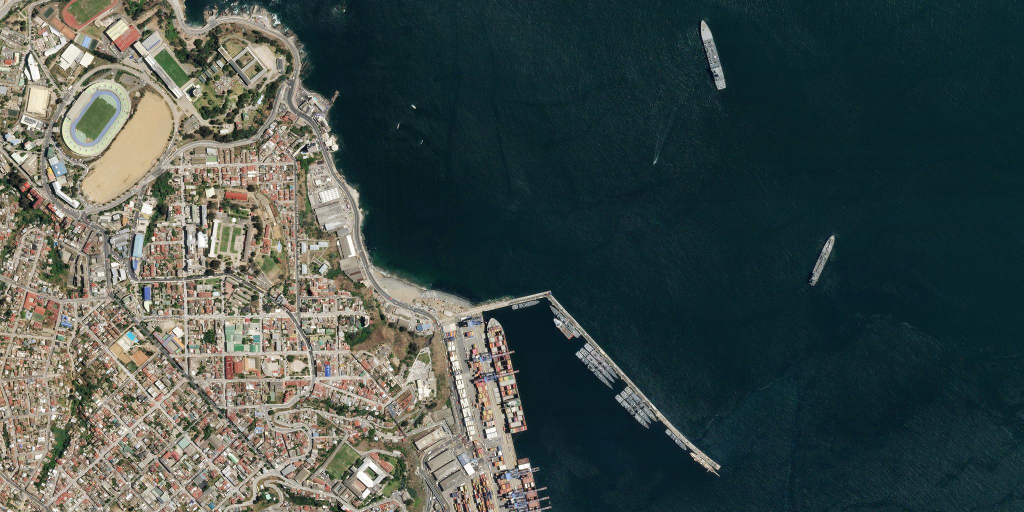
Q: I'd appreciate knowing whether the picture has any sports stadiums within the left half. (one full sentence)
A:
Yes, you'll find a sports stadium within the left half.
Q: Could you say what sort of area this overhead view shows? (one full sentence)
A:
This looks like a port.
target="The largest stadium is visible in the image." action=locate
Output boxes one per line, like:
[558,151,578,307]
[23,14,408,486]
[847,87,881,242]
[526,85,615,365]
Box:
[57,80,132,157]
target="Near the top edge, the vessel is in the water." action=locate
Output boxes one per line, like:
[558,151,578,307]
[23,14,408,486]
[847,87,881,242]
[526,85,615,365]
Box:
[702,21,726,90]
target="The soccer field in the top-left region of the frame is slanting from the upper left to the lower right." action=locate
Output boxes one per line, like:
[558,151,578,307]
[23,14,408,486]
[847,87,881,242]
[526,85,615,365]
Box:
[150,44,194,92]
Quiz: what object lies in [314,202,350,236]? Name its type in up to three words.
building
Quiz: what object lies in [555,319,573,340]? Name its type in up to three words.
vessel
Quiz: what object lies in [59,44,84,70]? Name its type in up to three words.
building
